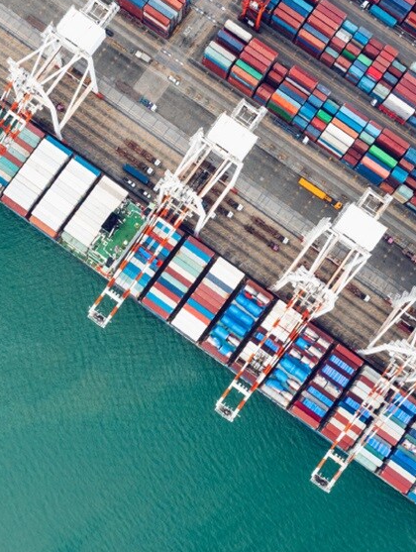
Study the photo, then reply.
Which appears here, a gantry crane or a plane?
gantry crane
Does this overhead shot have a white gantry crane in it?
Yes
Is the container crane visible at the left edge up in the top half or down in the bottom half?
top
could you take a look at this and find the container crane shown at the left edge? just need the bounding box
[0,0,122,165]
